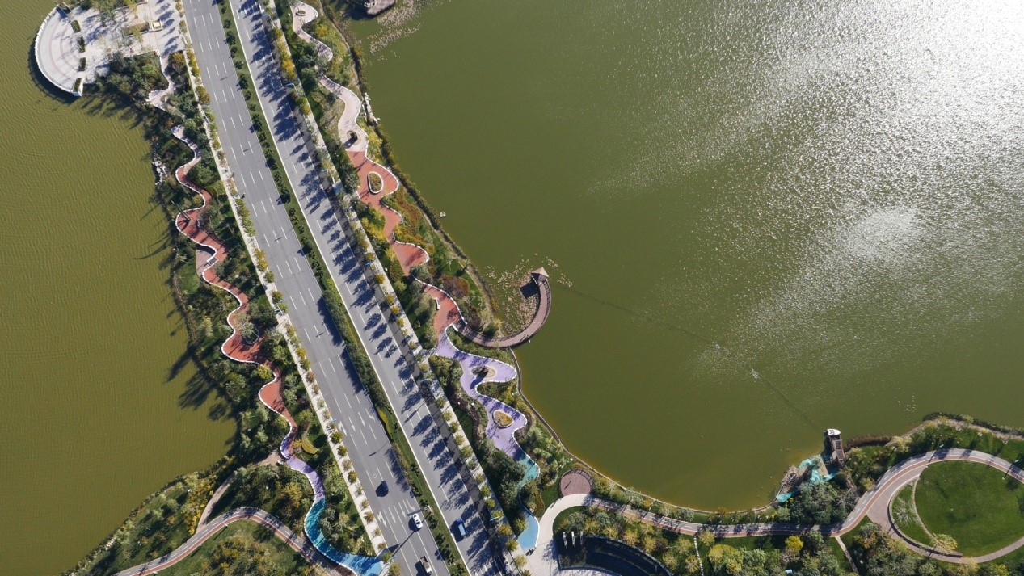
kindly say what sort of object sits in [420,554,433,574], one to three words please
vehicle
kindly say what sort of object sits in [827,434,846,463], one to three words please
pier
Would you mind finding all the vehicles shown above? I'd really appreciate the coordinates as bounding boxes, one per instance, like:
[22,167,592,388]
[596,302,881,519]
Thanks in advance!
[413,514,423,529]
[455,518,467,536]
[379,478,390,493]
[420,554,433,574]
